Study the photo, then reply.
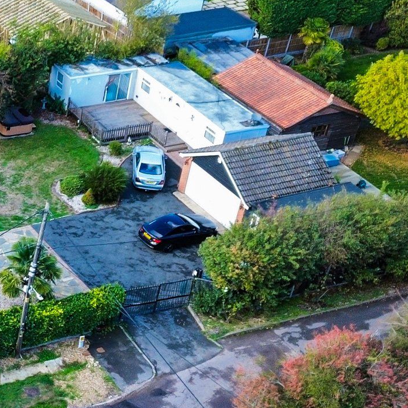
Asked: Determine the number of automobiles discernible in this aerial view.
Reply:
2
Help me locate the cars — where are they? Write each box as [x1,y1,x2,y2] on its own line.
[137,213,215,256]
[129,147,165,190]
